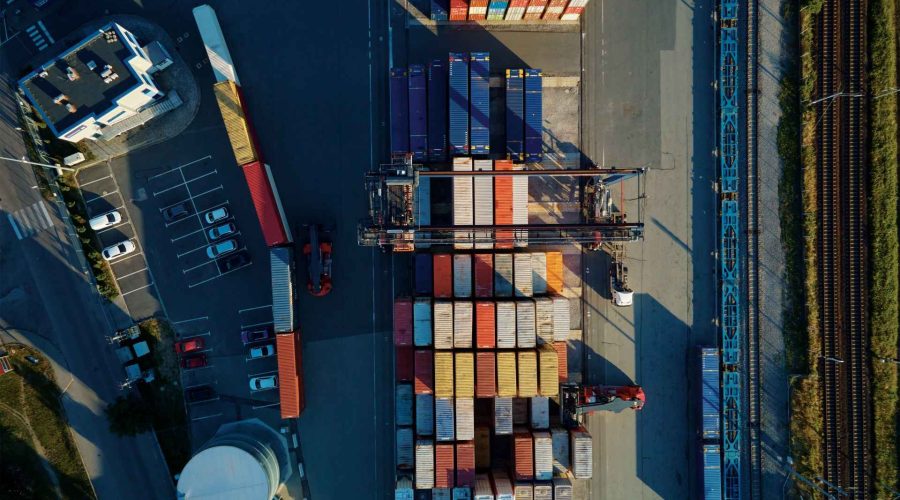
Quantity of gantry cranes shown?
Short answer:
one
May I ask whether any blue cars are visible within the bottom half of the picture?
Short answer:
Yes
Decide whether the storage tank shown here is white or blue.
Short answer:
blue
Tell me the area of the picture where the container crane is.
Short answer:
center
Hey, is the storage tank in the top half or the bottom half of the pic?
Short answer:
bottom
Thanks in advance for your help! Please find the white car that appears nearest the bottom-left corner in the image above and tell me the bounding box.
[103,240,138,260]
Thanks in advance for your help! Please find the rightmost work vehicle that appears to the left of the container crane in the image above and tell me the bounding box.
[294,221,338,295]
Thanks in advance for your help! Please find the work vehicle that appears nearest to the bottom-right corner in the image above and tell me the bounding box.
[568,380,645,424]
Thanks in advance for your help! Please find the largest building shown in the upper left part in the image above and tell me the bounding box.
[19,22,182,145]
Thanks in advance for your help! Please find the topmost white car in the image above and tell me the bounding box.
[89,211,124,231]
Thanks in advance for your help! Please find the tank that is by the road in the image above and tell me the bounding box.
[172,418,293,500]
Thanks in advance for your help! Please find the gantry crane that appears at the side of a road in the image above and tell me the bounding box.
[355,150,652,251]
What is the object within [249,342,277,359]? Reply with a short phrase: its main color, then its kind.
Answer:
blue car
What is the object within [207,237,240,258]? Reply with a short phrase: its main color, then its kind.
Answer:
blue car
